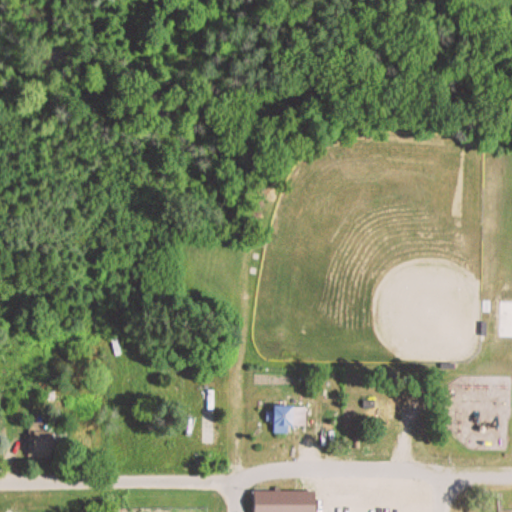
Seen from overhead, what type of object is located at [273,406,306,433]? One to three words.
house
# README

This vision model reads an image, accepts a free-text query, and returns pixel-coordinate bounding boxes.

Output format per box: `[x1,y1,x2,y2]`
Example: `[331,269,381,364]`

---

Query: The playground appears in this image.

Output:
[450,376,512,451]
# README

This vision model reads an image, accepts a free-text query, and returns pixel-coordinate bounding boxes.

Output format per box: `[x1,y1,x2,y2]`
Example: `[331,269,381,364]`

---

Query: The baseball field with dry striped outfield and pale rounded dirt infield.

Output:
[255,140,483,362]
